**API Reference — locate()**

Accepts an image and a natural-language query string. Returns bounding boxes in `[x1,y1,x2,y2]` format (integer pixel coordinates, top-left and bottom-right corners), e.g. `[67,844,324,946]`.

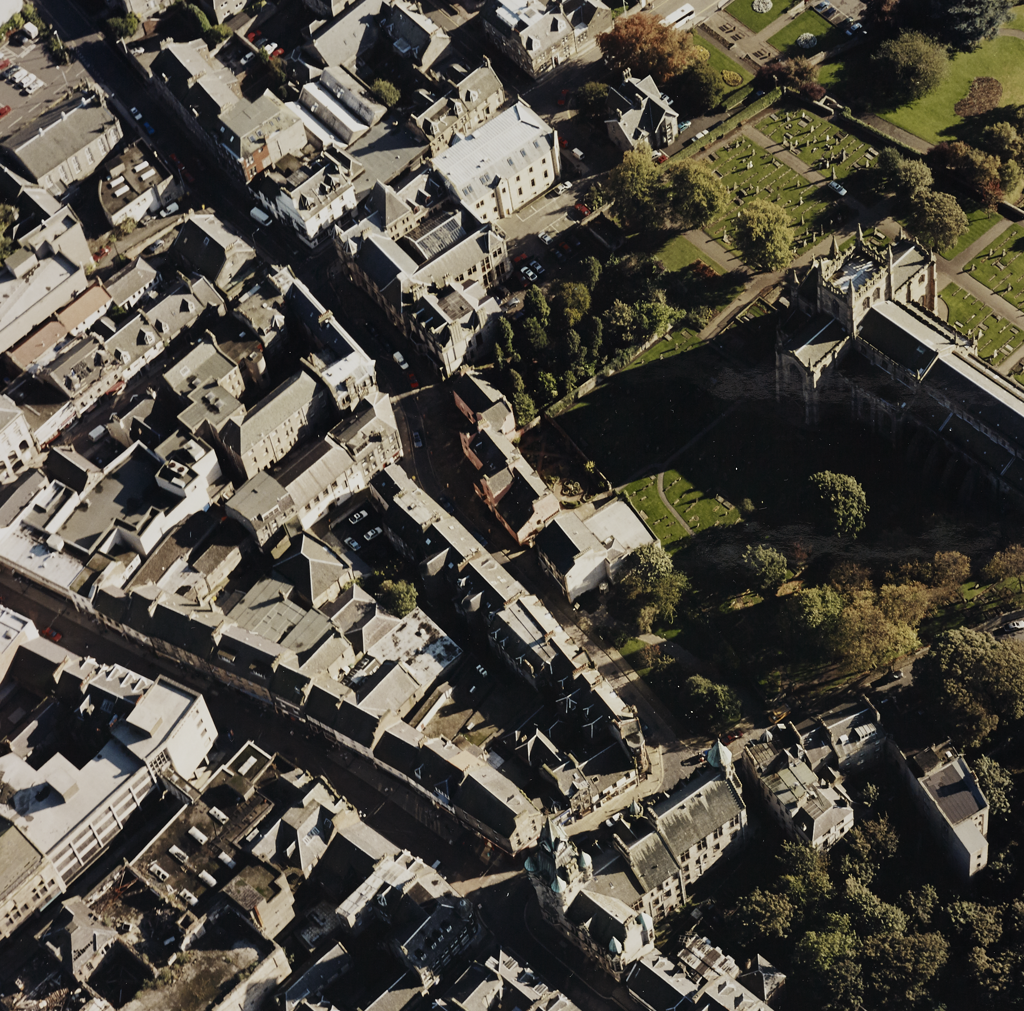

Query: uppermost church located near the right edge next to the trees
[771,228,1024,559]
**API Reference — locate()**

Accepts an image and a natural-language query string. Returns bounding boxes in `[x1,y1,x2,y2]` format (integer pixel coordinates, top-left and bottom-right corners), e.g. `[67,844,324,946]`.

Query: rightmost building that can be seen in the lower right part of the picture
[913,751,989,870]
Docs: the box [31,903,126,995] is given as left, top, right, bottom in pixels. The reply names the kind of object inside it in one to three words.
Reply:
house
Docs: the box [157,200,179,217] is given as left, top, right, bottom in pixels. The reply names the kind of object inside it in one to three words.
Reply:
vehicle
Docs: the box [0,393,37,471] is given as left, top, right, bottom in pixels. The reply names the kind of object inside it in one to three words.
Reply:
building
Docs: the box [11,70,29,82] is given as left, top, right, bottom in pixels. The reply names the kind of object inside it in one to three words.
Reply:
vehicle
